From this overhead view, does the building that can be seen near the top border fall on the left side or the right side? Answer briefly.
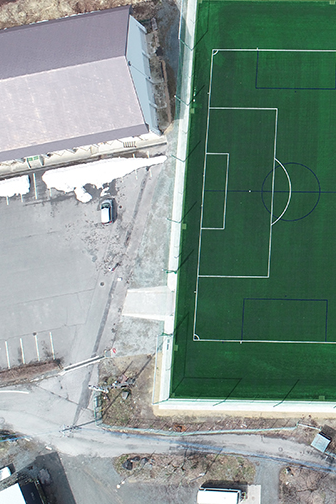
left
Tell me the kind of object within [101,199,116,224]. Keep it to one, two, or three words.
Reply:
car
